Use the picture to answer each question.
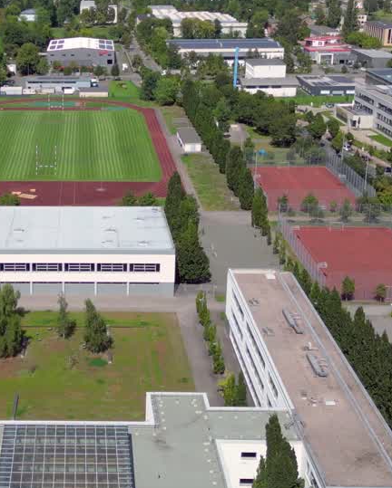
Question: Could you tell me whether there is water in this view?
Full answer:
No, there's no water in this view.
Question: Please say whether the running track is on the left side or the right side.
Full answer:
The running track is on the left side of the image.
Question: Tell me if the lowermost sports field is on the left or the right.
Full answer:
The lowermost sports field sits on the left side.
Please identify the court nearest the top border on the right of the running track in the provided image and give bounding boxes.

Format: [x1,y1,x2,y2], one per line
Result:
[247,166,358,211]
